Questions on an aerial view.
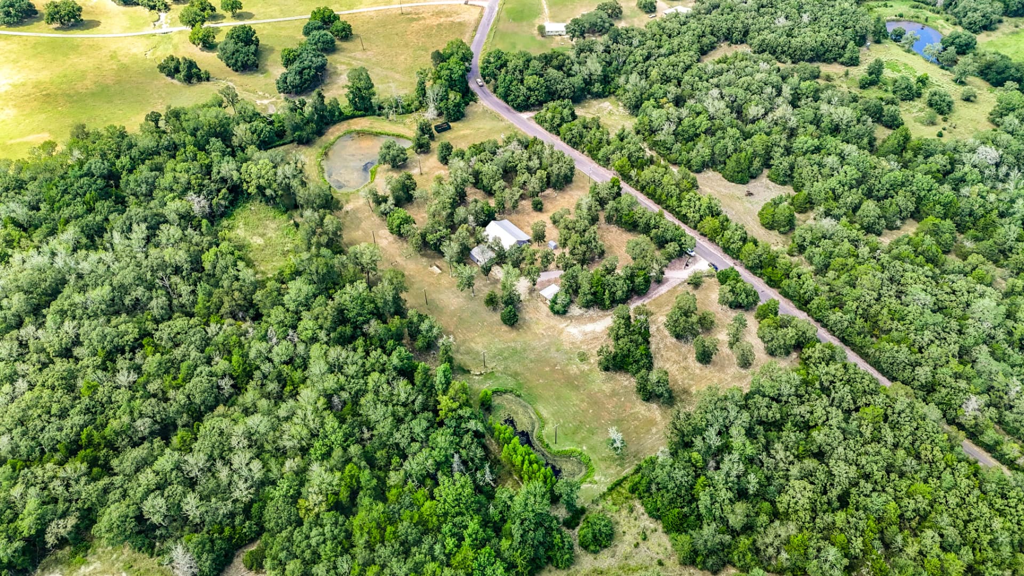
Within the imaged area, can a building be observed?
Yes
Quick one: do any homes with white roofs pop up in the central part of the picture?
Yes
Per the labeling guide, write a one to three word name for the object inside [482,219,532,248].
house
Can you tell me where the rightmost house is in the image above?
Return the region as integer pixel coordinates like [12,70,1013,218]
[657,5,694,19]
